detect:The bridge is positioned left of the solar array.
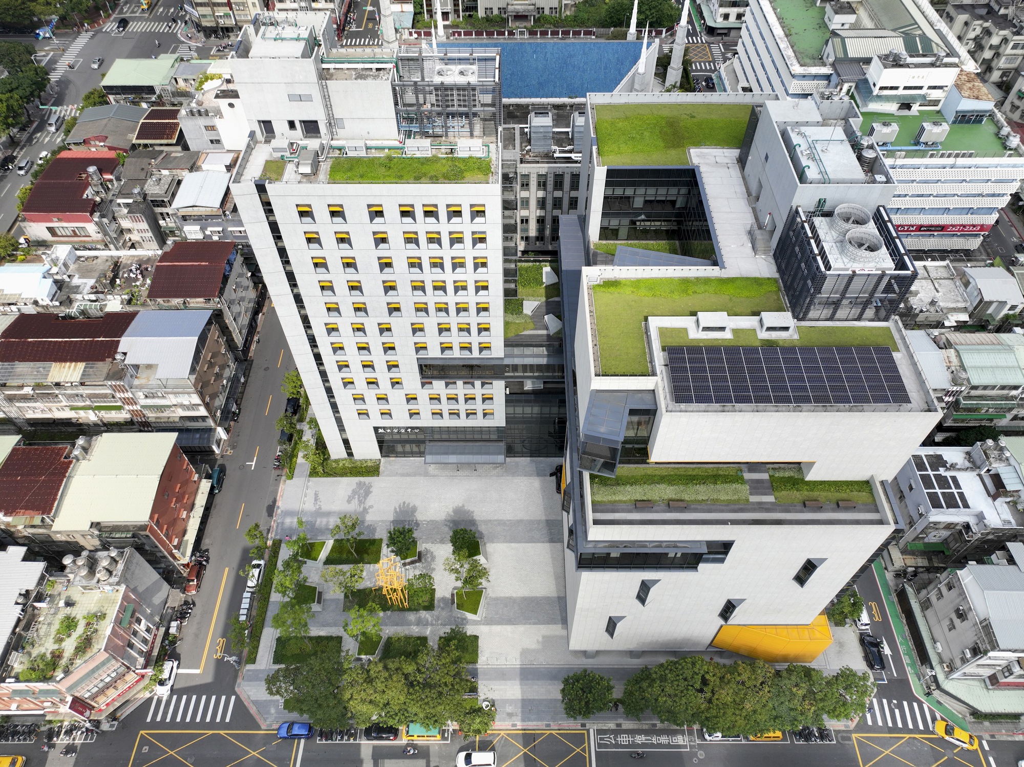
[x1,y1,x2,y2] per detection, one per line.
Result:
[506,345,559,373]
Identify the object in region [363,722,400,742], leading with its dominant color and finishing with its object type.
black car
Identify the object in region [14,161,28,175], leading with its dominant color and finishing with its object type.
gray car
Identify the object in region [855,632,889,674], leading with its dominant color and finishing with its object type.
black car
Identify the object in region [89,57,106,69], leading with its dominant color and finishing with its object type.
gray vehicle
